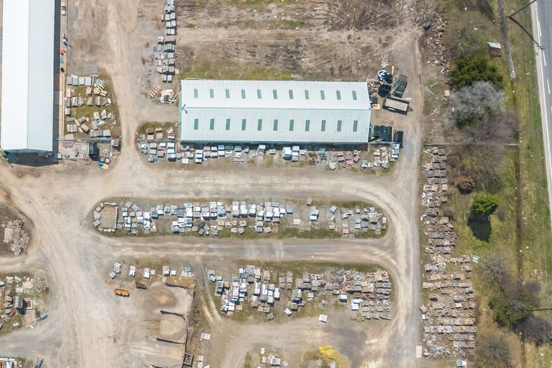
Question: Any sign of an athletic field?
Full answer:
No, I can see no athletic field in this picture.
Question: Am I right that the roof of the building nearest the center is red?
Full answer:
No, the roof of the building nearest the center is actually white.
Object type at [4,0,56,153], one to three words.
building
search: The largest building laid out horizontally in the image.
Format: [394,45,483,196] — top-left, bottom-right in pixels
[178,80,374,145]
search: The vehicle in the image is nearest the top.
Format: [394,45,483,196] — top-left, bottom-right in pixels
[389,71,407,99]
